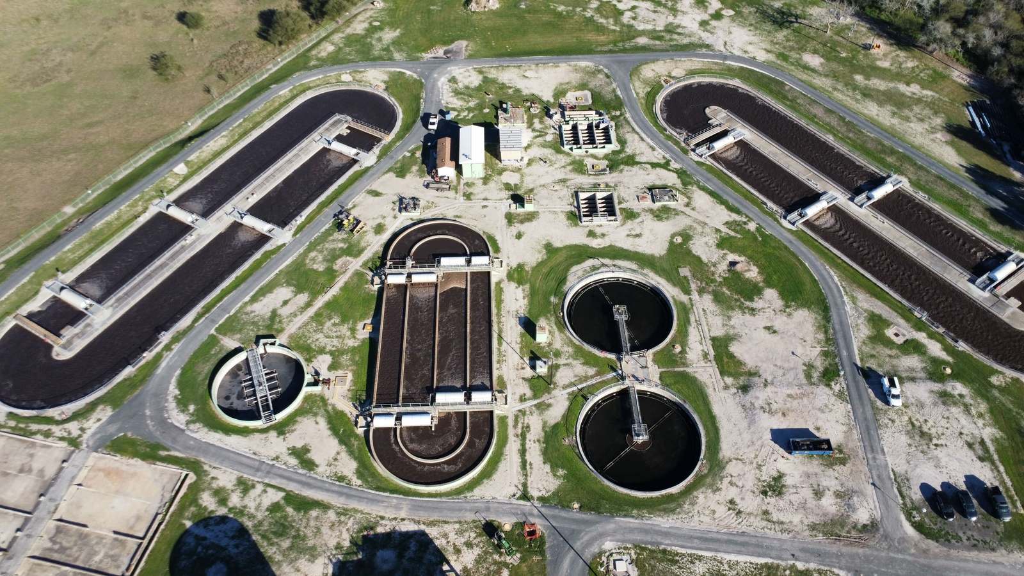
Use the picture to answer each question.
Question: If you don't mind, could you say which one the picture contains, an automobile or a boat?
automobile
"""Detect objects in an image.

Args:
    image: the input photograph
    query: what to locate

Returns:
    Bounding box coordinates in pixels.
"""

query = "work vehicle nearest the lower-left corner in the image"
[490,528,517,561]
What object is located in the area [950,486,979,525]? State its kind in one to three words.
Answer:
car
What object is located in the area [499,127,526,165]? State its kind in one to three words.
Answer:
building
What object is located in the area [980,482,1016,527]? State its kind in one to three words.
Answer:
truck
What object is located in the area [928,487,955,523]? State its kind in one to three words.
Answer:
car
